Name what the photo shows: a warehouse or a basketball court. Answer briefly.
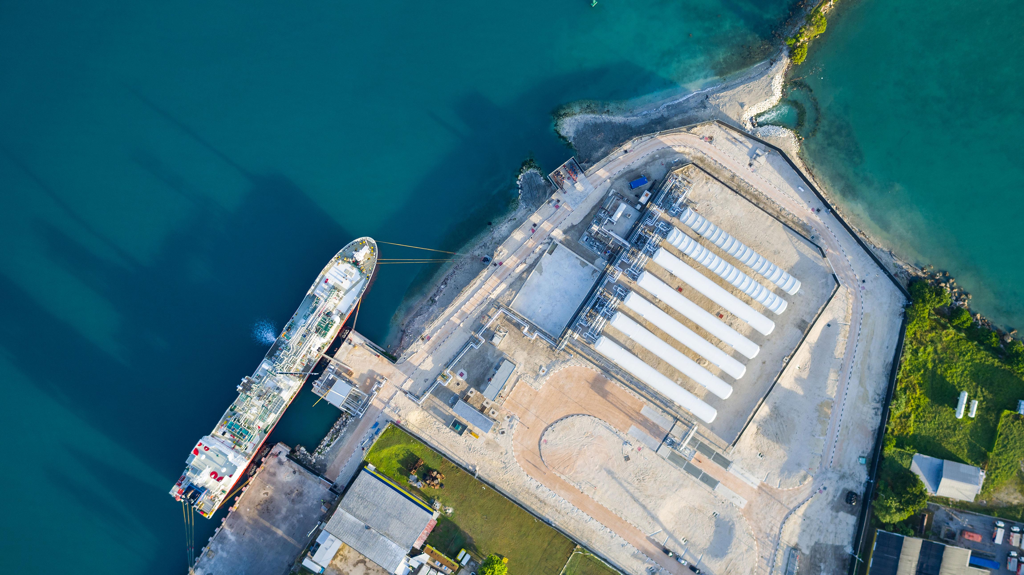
warehouse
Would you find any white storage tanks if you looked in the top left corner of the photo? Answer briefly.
No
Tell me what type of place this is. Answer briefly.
port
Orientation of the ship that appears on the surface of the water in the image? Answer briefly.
on a diagonal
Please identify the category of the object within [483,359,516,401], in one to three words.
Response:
shed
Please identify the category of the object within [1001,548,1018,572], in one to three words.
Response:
vehicle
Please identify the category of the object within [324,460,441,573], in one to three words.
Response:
warehouse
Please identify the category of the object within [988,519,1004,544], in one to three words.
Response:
vehicle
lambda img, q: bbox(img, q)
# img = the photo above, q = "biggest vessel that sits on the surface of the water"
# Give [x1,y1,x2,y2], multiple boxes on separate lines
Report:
[169,236,378,519]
